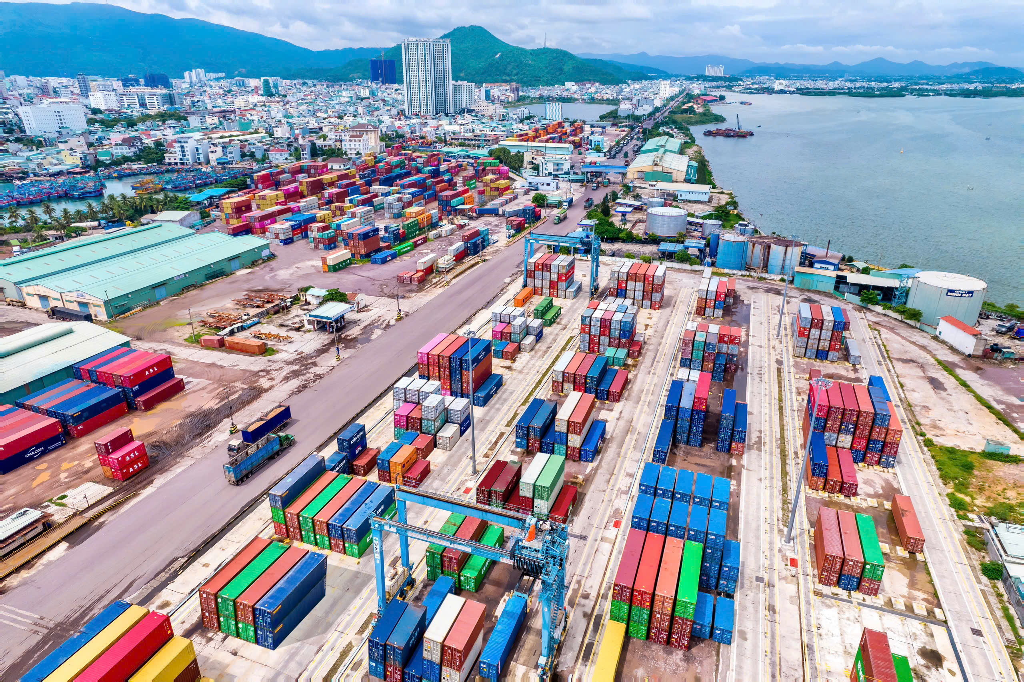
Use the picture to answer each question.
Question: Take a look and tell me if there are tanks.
Yes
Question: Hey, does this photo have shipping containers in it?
Yes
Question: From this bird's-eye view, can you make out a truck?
Yes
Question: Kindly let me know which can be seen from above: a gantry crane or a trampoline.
gantry crane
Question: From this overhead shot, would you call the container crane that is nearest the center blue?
Yes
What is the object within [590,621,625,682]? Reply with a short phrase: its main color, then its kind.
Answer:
yellow shipping container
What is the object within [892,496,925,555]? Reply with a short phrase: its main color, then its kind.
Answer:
red shipping container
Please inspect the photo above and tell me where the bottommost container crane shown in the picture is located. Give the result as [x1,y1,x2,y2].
[356,472,582,682]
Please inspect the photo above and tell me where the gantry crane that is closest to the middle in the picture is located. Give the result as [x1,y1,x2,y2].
[519,228,605,298]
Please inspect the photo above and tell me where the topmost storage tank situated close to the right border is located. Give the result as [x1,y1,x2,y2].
[907,269,995,329]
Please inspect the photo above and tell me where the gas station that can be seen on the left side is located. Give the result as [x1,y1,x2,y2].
[303,301,359,333]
